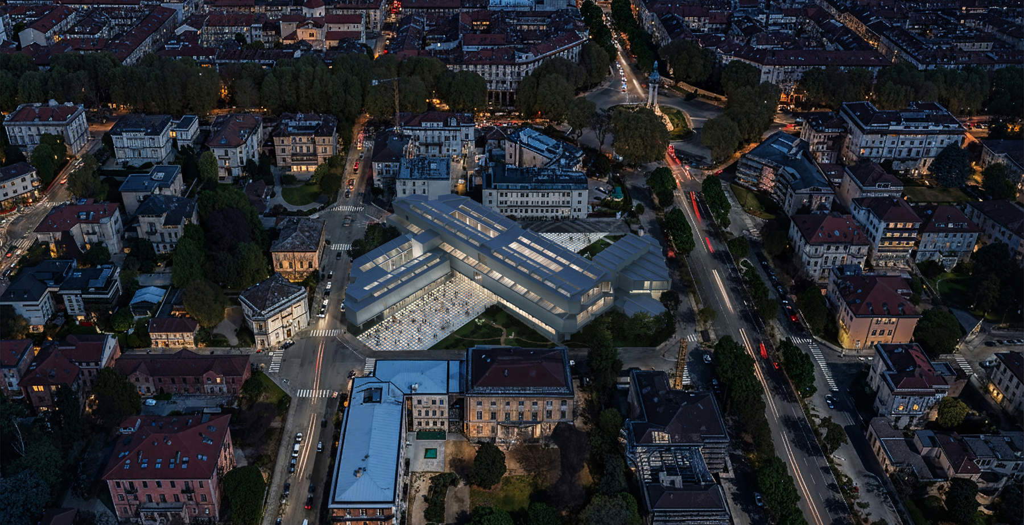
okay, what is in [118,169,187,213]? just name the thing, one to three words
building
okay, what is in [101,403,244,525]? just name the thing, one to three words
house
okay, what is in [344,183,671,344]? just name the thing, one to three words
building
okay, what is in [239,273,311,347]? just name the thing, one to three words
house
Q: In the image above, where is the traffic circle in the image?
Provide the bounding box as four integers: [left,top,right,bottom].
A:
[563,88,729,160]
